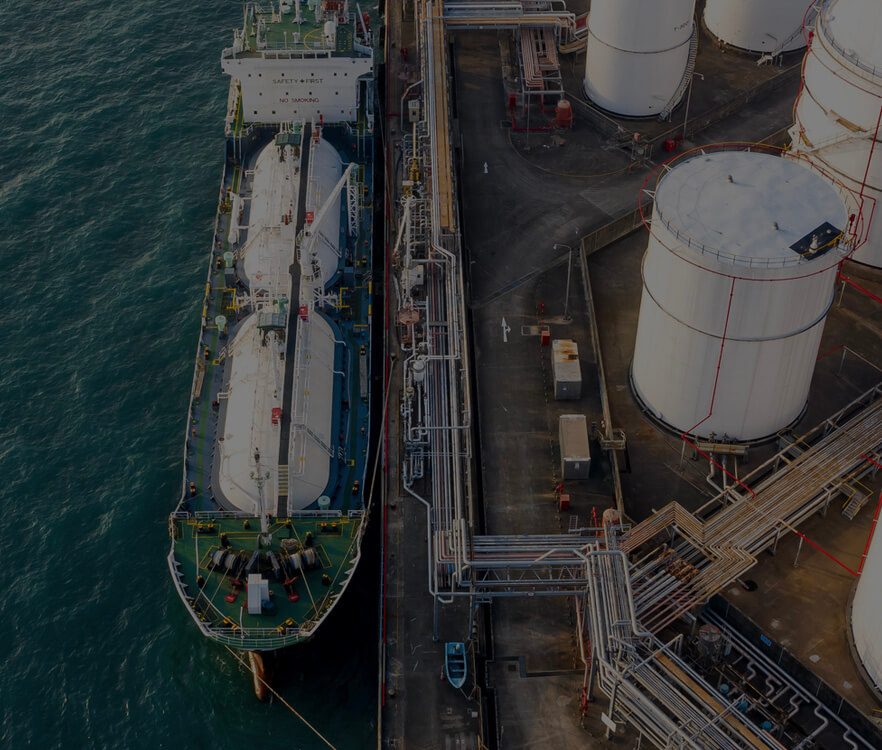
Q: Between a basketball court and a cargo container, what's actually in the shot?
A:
cargo container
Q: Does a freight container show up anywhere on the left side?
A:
No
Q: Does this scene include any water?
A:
Yes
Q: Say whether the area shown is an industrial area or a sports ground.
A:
industrial area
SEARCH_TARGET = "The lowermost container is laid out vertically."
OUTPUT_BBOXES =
[559,415,591,479]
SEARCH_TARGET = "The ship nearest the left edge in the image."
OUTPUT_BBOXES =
[167,0,376,706]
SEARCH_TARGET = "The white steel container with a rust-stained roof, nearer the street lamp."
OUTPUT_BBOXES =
[550,339,580,399]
